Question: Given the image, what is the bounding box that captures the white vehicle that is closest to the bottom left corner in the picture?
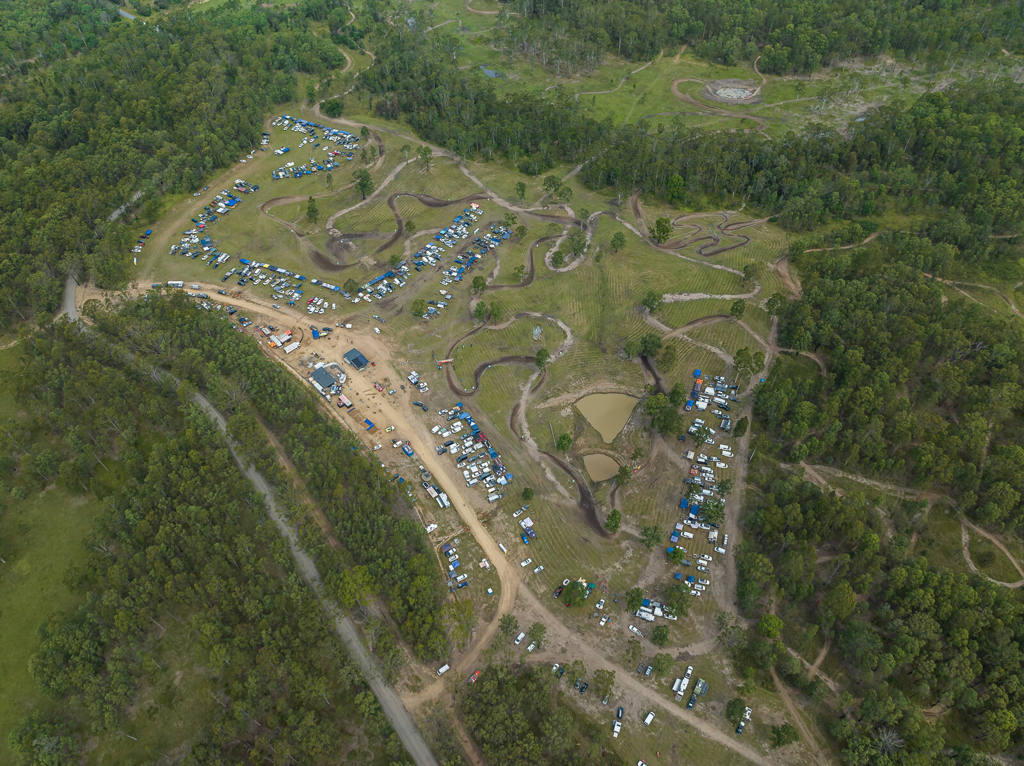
[436,663,451,677]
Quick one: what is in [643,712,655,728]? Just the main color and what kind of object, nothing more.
white vehicle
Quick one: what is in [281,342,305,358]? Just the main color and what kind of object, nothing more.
white vehicle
